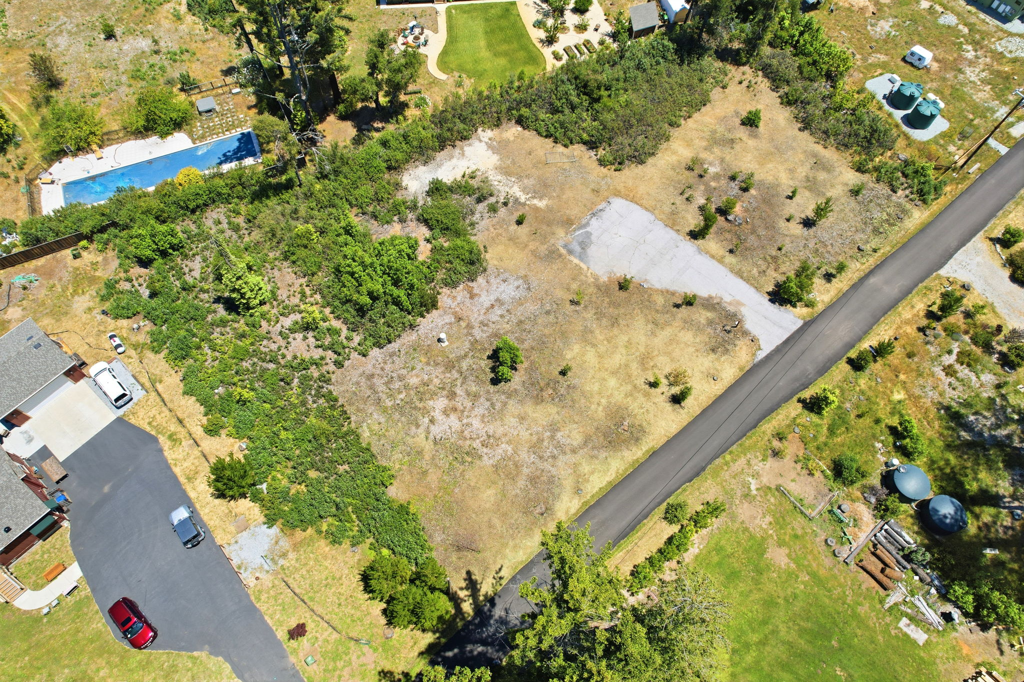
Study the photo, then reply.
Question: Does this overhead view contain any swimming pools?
Yes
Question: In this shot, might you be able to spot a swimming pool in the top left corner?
Yes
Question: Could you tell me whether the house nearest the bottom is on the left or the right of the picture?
left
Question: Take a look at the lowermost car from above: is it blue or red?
red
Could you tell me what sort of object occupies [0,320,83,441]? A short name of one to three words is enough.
house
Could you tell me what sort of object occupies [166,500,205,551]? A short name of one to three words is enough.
car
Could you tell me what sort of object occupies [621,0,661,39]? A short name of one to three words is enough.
shed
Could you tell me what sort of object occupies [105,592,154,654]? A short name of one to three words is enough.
car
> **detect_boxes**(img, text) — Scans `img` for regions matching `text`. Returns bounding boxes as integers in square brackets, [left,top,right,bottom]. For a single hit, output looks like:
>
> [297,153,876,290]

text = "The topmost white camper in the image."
[906,44,936,69]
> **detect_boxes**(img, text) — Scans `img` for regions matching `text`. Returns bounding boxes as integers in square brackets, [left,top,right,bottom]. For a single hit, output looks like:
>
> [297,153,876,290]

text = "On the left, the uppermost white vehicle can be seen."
[89,358,132,408]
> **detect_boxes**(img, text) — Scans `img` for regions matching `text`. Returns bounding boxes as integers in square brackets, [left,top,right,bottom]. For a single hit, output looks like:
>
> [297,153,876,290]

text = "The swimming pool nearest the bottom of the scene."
[60,128,258,207]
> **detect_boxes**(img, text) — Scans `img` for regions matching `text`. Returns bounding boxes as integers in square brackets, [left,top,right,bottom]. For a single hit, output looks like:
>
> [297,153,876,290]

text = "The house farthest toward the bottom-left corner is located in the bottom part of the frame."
[0,447,70,569]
